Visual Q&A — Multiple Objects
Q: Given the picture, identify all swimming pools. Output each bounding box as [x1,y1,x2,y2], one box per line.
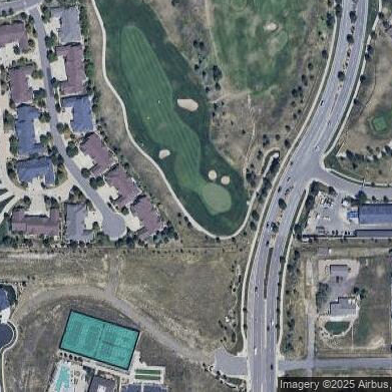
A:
[51,360,88,392]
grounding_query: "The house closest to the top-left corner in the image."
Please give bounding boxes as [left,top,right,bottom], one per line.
[0,22,23,47]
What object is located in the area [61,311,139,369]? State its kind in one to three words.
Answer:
sports court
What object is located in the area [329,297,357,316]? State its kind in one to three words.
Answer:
house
